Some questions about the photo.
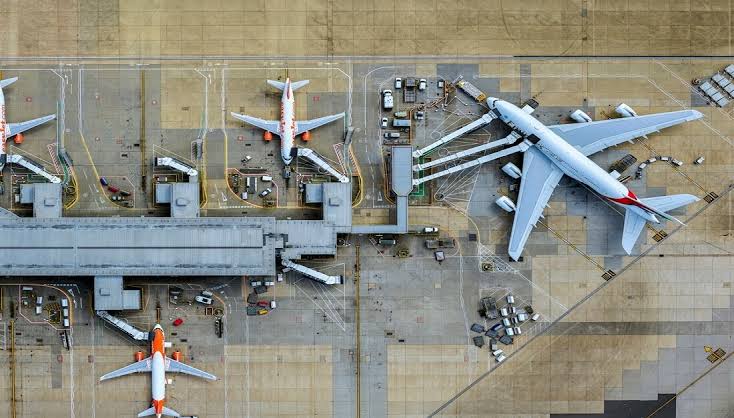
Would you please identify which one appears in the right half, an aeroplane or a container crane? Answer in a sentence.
It is an aeroplane that can be seen in the right half.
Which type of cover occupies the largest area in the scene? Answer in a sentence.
The scene is dominated by paved ground.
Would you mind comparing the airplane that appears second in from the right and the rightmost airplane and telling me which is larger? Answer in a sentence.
The rightmost airplane covers a greater area than the airplane that appears second in from the right.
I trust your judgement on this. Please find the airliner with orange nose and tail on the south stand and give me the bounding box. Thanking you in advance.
[96,323,220,418]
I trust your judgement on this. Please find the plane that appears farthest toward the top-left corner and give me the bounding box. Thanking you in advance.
[0,77,56,170]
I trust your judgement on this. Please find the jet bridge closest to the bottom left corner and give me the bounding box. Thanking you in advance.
[95,310,153,341]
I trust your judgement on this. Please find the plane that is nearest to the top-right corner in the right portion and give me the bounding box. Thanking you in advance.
[486,97,707,259]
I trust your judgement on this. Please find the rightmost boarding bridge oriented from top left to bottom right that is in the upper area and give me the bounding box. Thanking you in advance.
[293,146,348,182]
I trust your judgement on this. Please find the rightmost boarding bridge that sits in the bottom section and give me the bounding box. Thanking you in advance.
[282,260,344,286]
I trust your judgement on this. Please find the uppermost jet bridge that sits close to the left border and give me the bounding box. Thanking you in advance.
[6,153,62,183]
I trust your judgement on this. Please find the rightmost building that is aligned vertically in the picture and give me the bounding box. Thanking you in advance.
[391,146,413,196]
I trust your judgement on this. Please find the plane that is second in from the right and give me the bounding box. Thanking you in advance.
[232,79,345,165]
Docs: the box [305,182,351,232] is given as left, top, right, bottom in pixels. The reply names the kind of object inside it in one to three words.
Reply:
building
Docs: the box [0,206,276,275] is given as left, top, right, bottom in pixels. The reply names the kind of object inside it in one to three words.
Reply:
building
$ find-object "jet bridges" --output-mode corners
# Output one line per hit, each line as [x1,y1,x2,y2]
[413,110,499,157]
[156,156,199,176]
[293,146,348,182]
[6,153,62,183]
[282,260,344,286]
[413,138,538,185]
[95,310,153,341]
[413,133,523,171]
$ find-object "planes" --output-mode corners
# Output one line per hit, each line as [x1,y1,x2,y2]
[486,97,707,259]
[96,323,220,418]
[232,79,345,165]
[0,77,56,170]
